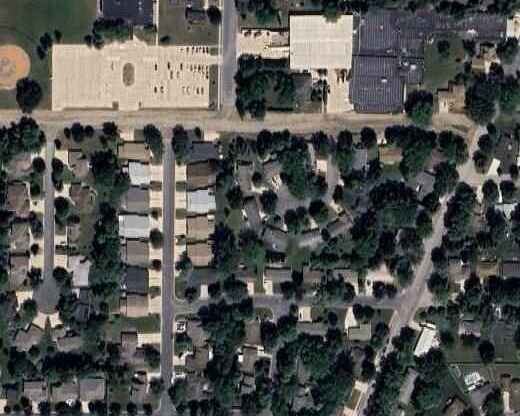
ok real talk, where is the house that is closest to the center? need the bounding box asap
[240,198,266,227]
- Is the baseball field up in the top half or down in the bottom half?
top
